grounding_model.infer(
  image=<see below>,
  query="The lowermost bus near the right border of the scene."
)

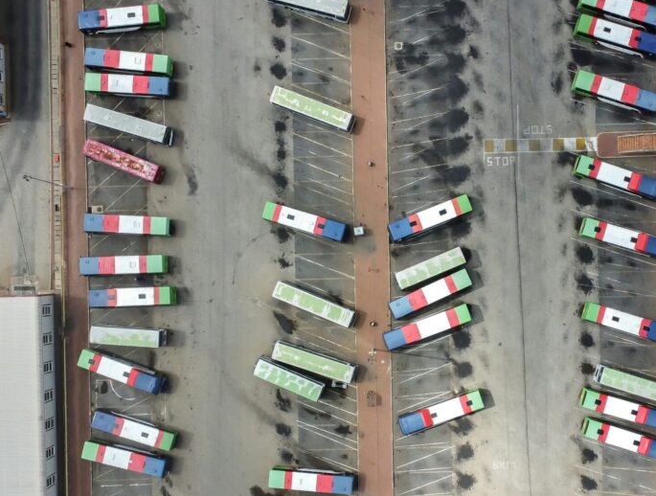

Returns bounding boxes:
[577,415,656,458]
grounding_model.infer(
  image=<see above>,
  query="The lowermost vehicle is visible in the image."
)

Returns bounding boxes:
[270,466,357,495]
